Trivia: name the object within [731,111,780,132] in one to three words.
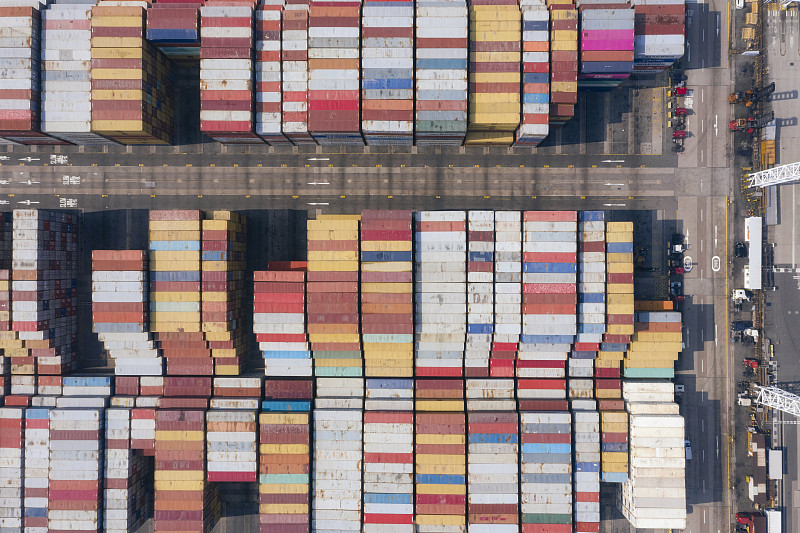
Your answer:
work vehicle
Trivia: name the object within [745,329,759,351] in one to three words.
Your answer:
vehicle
